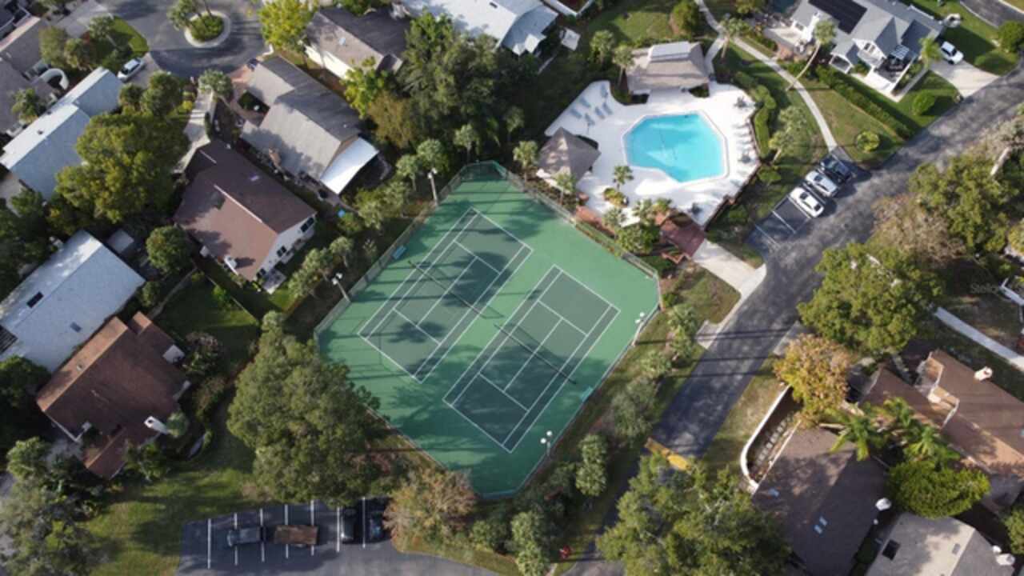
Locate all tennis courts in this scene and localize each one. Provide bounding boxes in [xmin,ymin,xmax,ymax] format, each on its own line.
[320,175,571,428]
[401,225,658,496]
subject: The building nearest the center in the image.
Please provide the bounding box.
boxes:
[537,130,602,181]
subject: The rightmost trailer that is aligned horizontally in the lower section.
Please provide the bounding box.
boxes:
[268,523,319,547]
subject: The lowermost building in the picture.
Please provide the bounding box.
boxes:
[863,511,1016,576]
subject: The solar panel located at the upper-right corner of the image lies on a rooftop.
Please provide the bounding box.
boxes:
[811,0,870,34]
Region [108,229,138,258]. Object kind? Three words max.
shed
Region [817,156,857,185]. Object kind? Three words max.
truck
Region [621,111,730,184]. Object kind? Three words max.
swimming pool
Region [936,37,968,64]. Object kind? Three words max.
car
